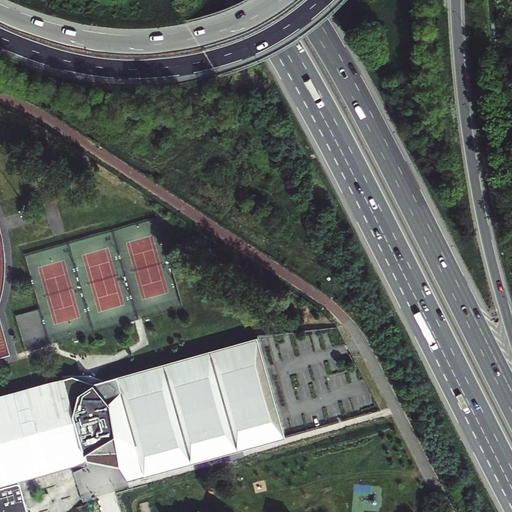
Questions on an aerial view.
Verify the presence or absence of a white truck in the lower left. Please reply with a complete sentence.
No, no white truck can be made out in the lower left.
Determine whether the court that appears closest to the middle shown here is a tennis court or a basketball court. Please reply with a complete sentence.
What you see as the court that appears closest to the middle is a tennis court.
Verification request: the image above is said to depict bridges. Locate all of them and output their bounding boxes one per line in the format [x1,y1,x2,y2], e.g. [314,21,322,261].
[186,0,344,78]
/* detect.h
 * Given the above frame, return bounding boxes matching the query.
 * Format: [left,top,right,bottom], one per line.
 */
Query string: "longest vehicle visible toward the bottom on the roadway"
[414,311,440,351]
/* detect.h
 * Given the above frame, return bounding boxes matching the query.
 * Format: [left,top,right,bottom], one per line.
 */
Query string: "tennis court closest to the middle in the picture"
[114,218,182,316]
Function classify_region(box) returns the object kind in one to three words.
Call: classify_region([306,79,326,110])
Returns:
vehicle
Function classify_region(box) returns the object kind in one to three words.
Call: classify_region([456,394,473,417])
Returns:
vehicle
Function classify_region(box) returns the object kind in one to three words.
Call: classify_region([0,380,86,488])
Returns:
building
